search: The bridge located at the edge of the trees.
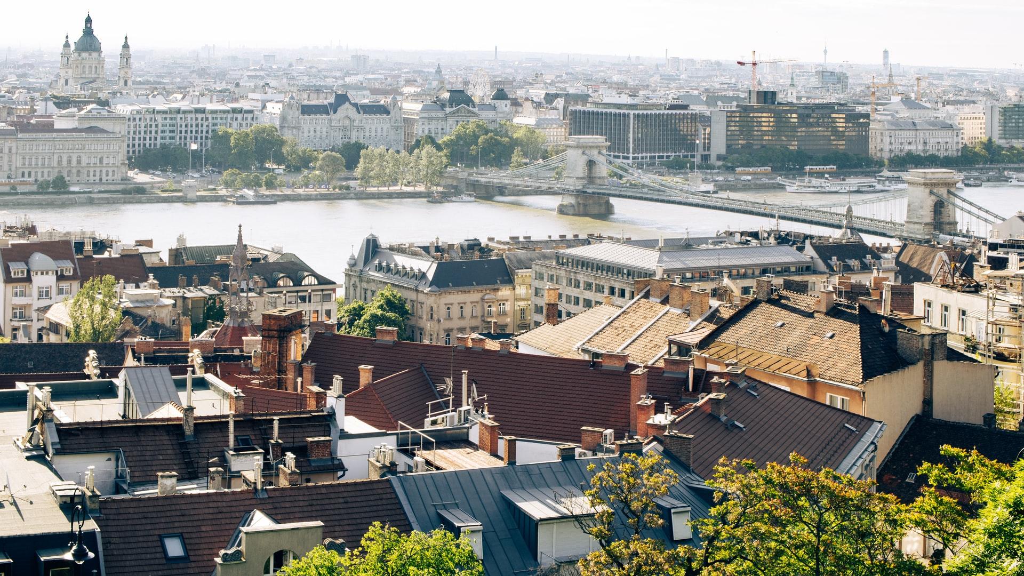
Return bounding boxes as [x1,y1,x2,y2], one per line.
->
[433,135,1011,252]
